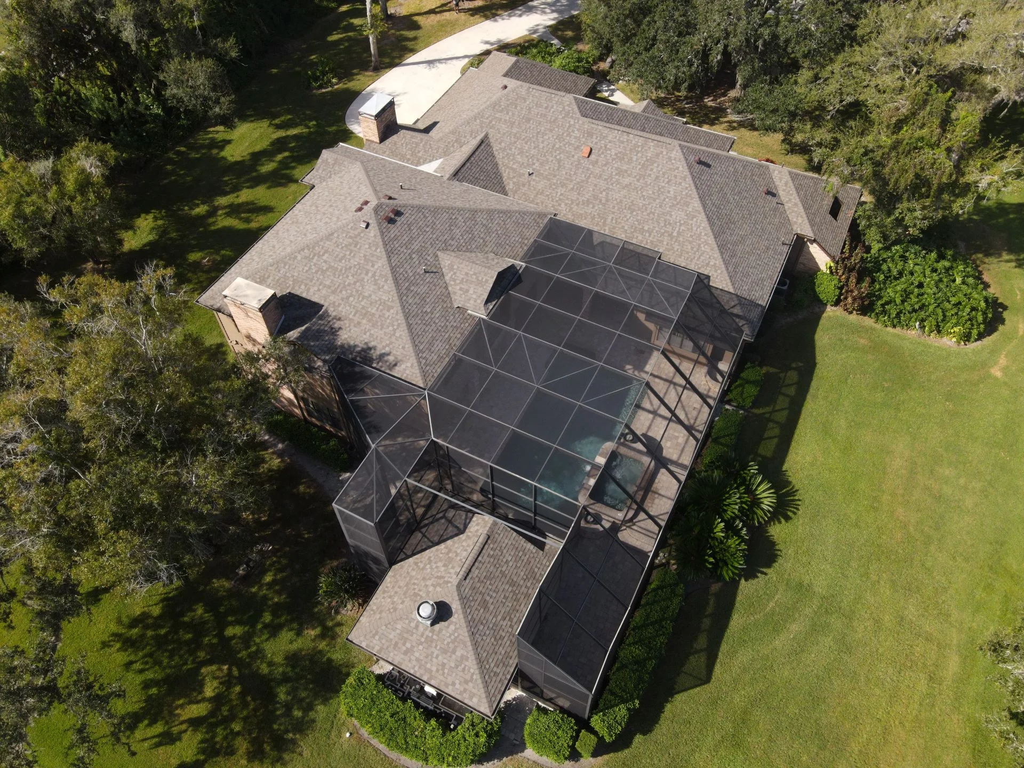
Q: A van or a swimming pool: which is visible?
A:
swimming pool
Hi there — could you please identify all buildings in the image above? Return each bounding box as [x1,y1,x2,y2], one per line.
[195,53,863,455]
[344,505,569,724]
